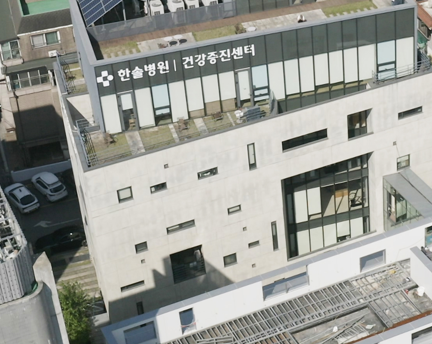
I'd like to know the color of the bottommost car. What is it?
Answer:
black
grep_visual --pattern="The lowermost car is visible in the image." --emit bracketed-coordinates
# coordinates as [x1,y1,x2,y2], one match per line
[28,226,91,262]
